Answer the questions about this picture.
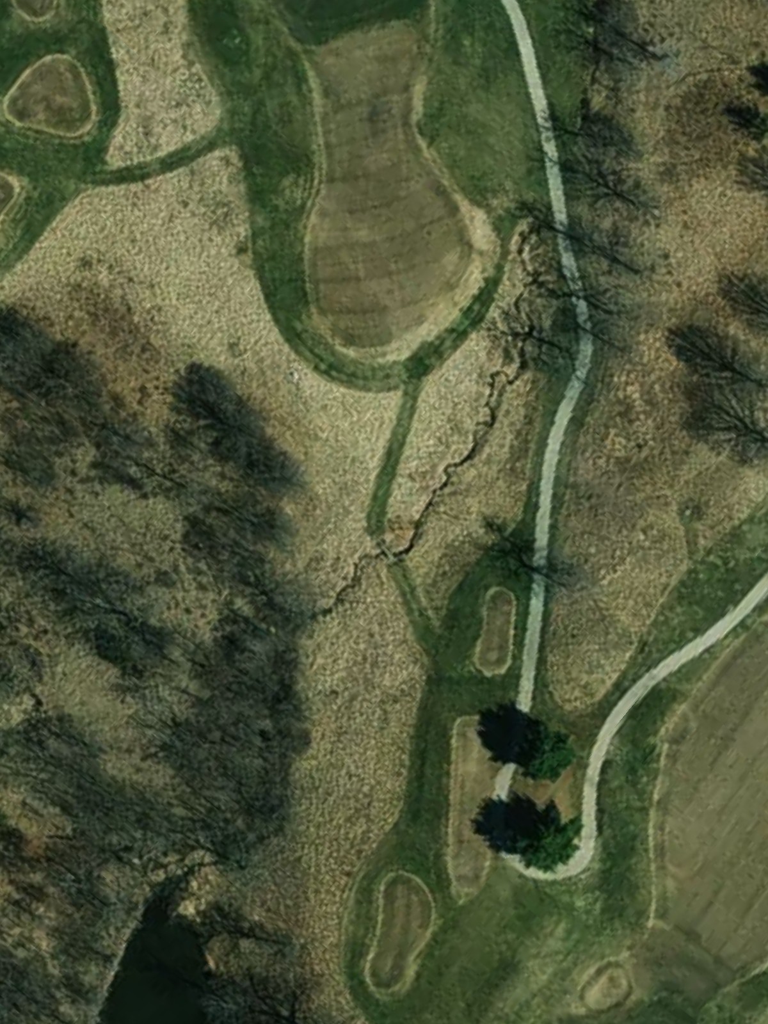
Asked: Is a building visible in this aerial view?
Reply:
No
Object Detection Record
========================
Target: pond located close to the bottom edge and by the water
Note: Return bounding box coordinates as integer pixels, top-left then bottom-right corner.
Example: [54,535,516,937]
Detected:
[95,860,210,1024]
